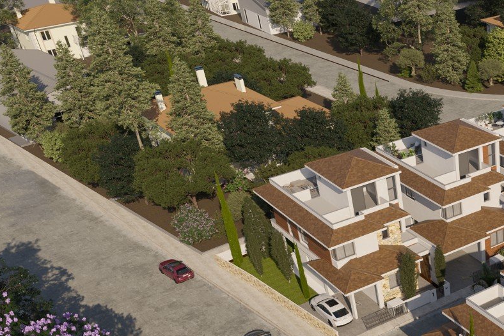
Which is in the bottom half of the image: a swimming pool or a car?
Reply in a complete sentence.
It is a car that can be seen in the bottom half of the image.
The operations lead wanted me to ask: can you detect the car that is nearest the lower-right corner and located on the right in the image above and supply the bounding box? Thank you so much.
[312,295,354,325]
